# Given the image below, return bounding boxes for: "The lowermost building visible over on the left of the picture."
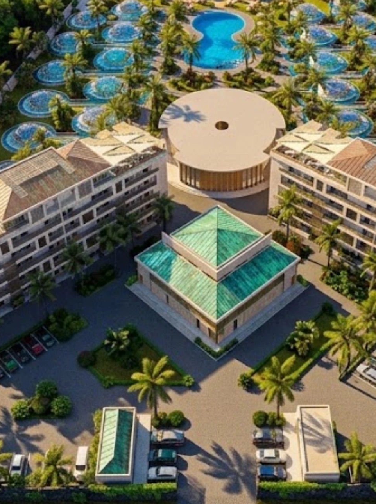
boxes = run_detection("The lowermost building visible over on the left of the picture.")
[95,407,137,487]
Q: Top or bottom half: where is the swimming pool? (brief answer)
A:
top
